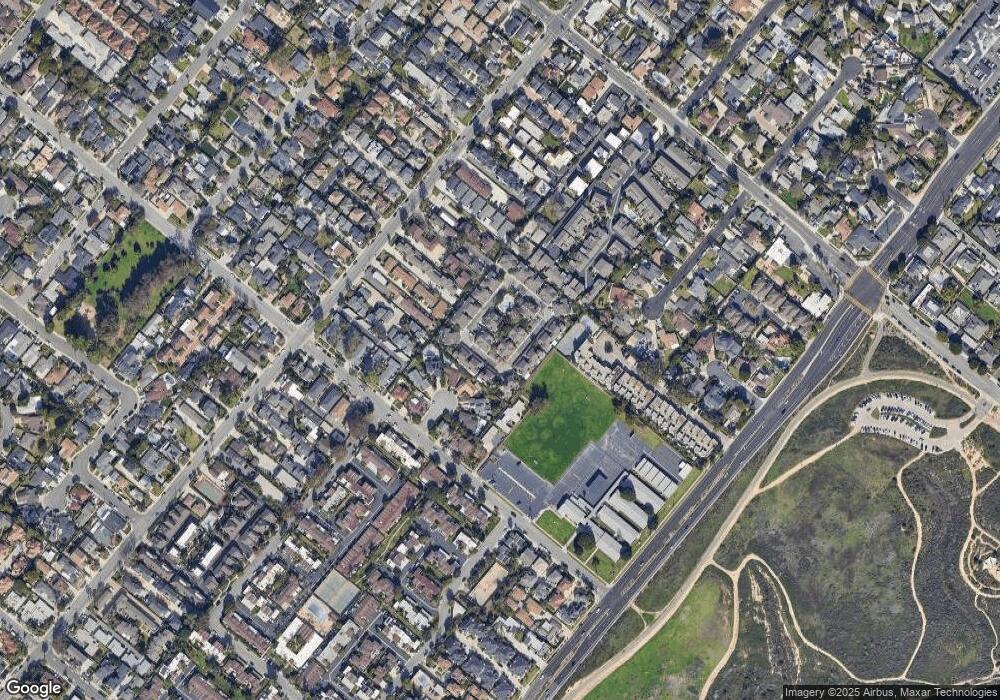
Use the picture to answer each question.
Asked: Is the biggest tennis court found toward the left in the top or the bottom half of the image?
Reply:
bottom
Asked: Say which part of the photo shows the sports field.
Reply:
center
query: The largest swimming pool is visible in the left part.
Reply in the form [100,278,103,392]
[298,595,339,633]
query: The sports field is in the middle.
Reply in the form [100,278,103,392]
[500,347,616,488]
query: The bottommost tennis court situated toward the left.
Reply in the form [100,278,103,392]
[314,569,360,614]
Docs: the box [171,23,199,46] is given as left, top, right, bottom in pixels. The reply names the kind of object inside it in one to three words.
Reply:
house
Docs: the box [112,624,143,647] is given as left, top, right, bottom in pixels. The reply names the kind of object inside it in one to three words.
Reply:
building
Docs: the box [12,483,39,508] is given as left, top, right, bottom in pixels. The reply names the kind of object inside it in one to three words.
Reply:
house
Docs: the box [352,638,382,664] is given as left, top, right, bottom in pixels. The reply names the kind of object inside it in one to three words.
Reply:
building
